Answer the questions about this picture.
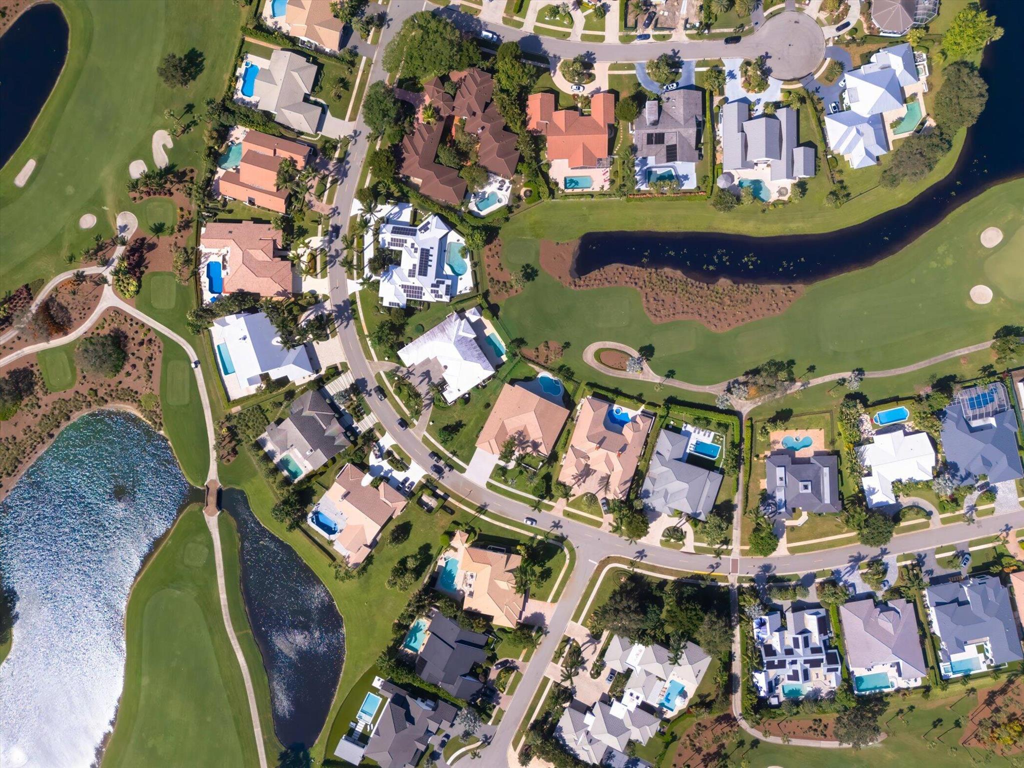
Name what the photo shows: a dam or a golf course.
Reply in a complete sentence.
Visible in the photo is a golf course.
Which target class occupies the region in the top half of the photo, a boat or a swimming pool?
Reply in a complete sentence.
What appears in the top half of the photo is a swimming pool.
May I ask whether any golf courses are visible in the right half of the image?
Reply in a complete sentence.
Yes, a golf course shows up in the right half of the image.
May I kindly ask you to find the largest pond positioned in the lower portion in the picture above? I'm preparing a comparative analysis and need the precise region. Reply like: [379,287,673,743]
[218,487,345,748]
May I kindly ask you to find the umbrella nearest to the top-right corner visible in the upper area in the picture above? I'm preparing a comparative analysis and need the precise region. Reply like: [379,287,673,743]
[717,172,734,189]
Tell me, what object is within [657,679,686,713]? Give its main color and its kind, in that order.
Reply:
blue swimming pool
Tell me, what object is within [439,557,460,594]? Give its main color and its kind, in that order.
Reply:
blue swimming pool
